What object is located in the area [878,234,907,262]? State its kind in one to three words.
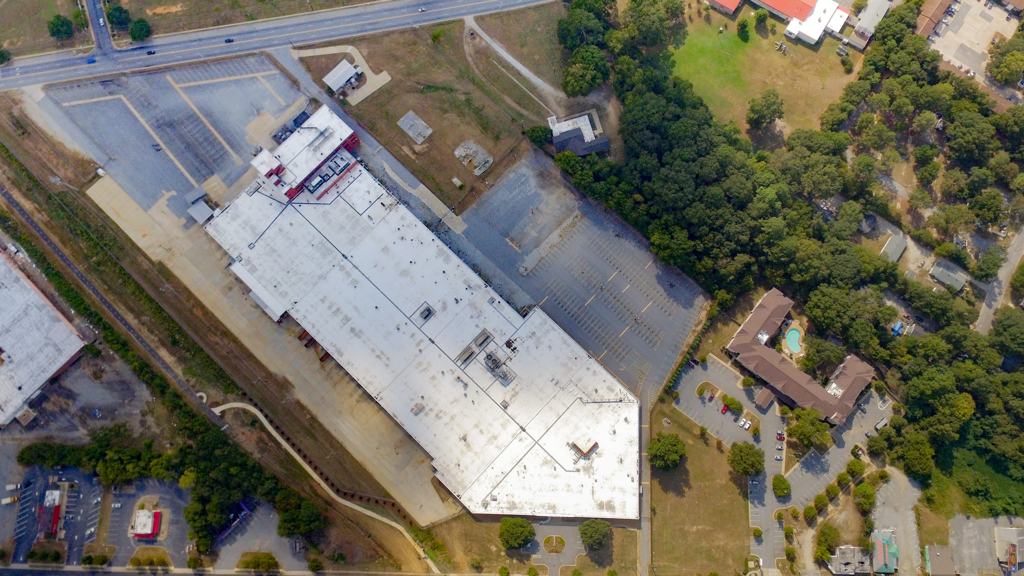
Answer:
house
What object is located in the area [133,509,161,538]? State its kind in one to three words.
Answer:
building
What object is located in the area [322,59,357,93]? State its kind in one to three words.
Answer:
shed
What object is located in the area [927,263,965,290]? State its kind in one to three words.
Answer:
house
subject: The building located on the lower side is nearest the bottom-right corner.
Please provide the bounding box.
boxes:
[988,526,1024,567]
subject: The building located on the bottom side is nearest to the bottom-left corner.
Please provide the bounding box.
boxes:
[36,489,66,541]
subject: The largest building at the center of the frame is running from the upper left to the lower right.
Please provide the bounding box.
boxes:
[203,163,639,520]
